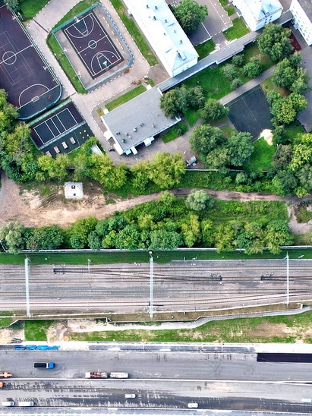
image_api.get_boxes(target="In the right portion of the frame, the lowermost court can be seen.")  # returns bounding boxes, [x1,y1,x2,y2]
[224,84,275,134]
